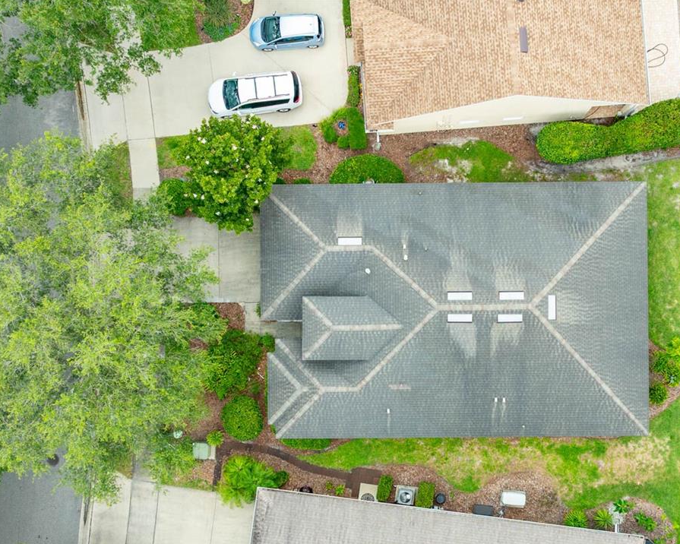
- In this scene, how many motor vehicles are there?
2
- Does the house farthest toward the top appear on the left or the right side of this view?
right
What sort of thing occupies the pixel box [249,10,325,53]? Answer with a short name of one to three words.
car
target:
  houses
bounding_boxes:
[341,0,652,157]
[249,487,644,544]
[259,181,649,439]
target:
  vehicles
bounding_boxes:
[249,10,325,53]
[208,71,304,115]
